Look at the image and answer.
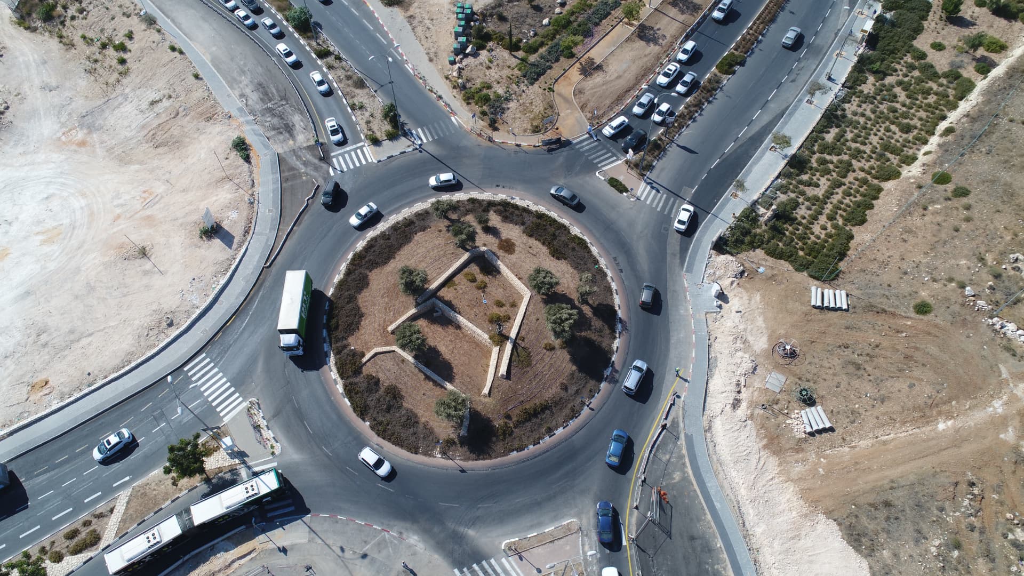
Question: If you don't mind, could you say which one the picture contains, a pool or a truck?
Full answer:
I can see a truck in this picture.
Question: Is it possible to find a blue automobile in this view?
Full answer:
Yes, there is a blue automobile in the image.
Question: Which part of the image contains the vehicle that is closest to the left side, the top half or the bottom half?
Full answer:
You can find the vehicle that is closest to the left side in the bottom half.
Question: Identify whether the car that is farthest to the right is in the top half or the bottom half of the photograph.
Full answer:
Seen from above, the car that is farthest to the right lies in the top half of the view.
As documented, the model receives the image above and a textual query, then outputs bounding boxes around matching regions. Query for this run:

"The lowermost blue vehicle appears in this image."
[595,501,615,545]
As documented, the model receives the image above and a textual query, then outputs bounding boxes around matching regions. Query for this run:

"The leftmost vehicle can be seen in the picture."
[0,464,22,497]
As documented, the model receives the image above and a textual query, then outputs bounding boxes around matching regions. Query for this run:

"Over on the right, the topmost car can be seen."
[711,0,735,21]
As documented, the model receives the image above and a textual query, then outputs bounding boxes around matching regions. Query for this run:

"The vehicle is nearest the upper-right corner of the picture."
[780,26,803,51]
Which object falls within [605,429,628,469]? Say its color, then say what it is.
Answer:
blue car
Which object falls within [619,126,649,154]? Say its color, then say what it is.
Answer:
black car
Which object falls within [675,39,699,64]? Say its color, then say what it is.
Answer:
white car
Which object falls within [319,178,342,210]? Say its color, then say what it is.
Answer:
black car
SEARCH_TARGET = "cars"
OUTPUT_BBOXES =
[319,178,342,210]
[650,100,675,126]
[600,114,631,138]
[325,117,345,146]
[672,204,693,235]
[619,126,649,154]
[274,41,301,68]
[428,172,459,189]
[621,359,647,398]
[675,39,699,64]
[780,26,803,51]
[637,282,657,313]
[348,201,381,229]
[93,427,135,463]
[595,501,615,545]
[238,0,263,15]
[711,0,735,21]
[655,62,682,89]
[605,429,628,469]
[674,69,699,97]
[308,70,332,98]
[232,7,259,32]
[601,565,618,576]
[630,90,656,118]
[548,185,582,208]
[260,15,286,40]
[215,0,239,12]
[357,445,393,481]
